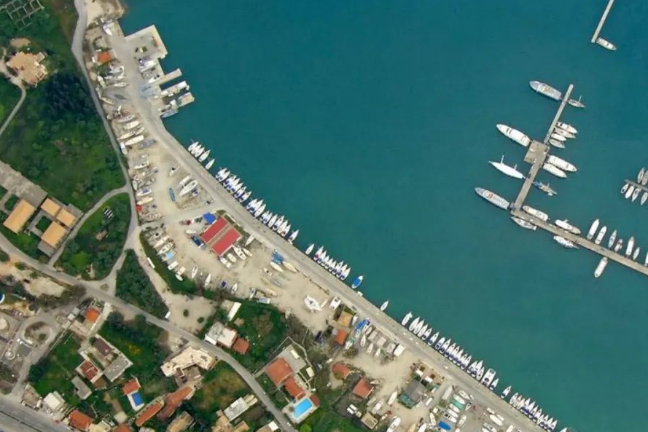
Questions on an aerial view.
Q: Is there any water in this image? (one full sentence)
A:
Yes, water shows up in the scene.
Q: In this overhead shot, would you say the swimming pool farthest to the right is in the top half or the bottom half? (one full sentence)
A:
Seen from above, the swimming pool farthest to the right lies in the bottom half of the view.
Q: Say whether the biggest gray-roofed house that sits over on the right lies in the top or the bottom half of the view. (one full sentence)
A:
Seen from above, the biggest gray-roofed house that sits over on the right lies in the bottom half of the view.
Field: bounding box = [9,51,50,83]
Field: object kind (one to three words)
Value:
house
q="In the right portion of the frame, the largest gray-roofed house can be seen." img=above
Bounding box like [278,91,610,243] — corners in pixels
[403,377,427,401]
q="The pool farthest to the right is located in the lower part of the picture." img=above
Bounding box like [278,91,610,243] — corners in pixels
[281,392,319,424]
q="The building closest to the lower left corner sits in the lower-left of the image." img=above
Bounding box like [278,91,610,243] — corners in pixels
[19,387,43,409]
